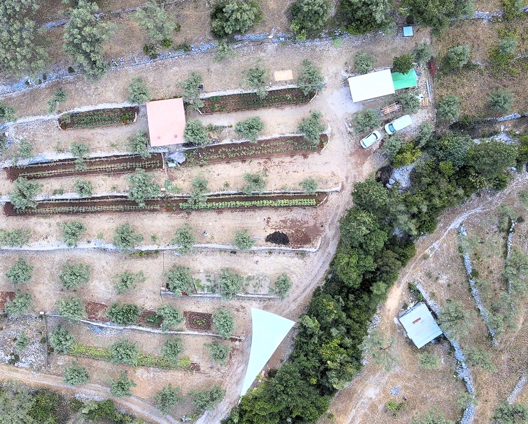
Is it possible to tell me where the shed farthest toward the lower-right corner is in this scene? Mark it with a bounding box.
[397,302,442,348]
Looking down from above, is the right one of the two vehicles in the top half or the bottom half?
top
